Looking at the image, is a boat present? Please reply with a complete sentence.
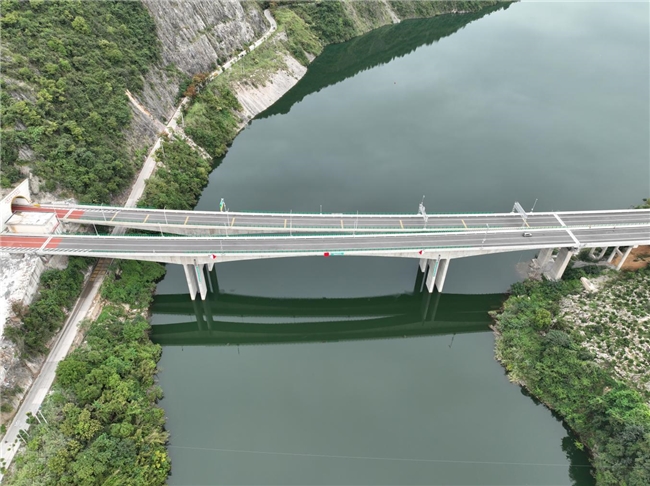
No, I can't see a single boat in this photo.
